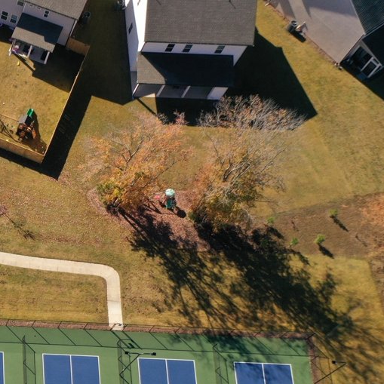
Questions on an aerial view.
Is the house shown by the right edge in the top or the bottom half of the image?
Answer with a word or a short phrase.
top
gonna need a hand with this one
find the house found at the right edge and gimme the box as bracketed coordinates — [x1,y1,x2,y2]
[264,0,384,87]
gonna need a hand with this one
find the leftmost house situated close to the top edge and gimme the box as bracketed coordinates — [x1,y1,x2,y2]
[0,0,87,66]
